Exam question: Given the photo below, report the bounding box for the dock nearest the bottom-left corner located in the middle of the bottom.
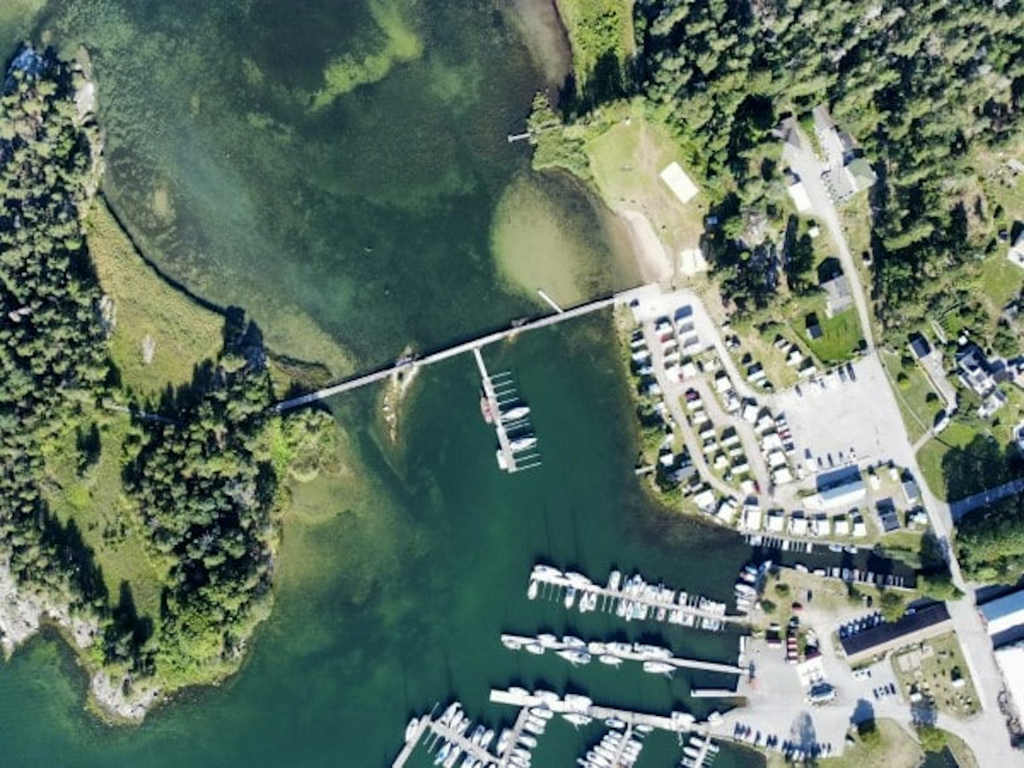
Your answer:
[392,714,430,768]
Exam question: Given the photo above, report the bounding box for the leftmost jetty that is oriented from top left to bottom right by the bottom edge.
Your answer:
[428,718,506,766]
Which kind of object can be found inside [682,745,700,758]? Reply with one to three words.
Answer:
boat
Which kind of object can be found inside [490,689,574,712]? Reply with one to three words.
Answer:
pier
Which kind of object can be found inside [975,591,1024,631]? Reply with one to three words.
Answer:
building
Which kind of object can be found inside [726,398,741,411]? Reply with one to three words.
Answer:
vehicle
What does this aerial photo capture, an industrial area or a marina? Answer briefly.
marina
